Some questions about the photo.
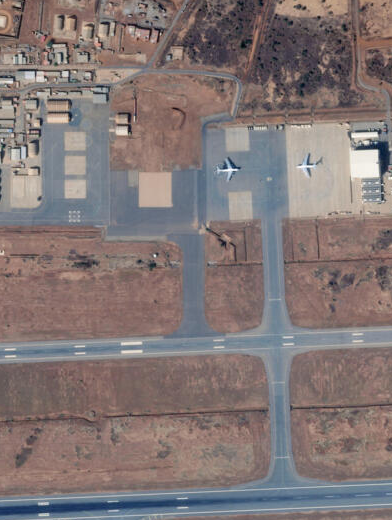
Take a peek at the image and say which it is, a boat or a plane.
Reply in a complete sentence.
Visible in the photo is a plane.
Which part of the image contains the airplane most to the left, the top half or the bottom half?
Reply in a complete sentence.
It is in the top half that the airplane most to the left appears.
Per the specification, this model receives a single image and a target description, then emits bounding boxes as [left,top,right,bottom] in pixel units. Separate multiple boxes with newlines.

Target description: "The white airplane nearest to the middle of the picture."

[216,159,240,181]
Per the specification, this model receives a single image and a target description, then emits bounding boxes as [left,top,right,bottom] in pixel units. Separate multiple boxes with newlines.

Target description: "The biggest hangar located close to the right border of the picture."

[352,149,380,177]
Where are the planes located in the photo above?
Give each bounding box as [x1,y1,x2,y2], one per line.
[296,154,319,178]
[216,159,240,181]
